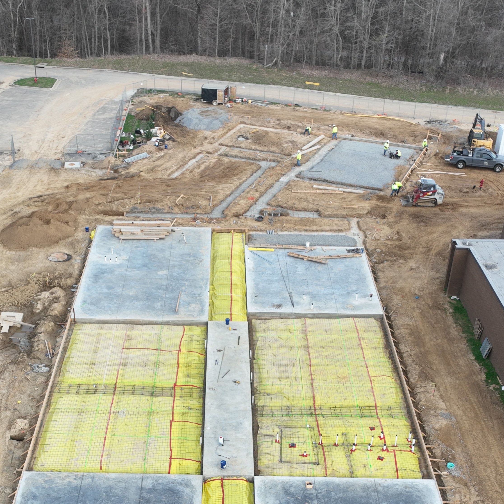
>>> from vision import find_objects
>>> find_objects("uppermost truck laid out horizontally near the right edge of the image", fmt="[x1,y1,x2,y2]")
[447,142,504,172]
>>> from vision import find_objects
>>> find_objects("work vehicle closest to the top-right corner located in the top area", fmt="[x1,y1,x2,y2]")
[463,98,491,146]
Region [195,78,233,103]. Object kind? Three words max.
trailer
